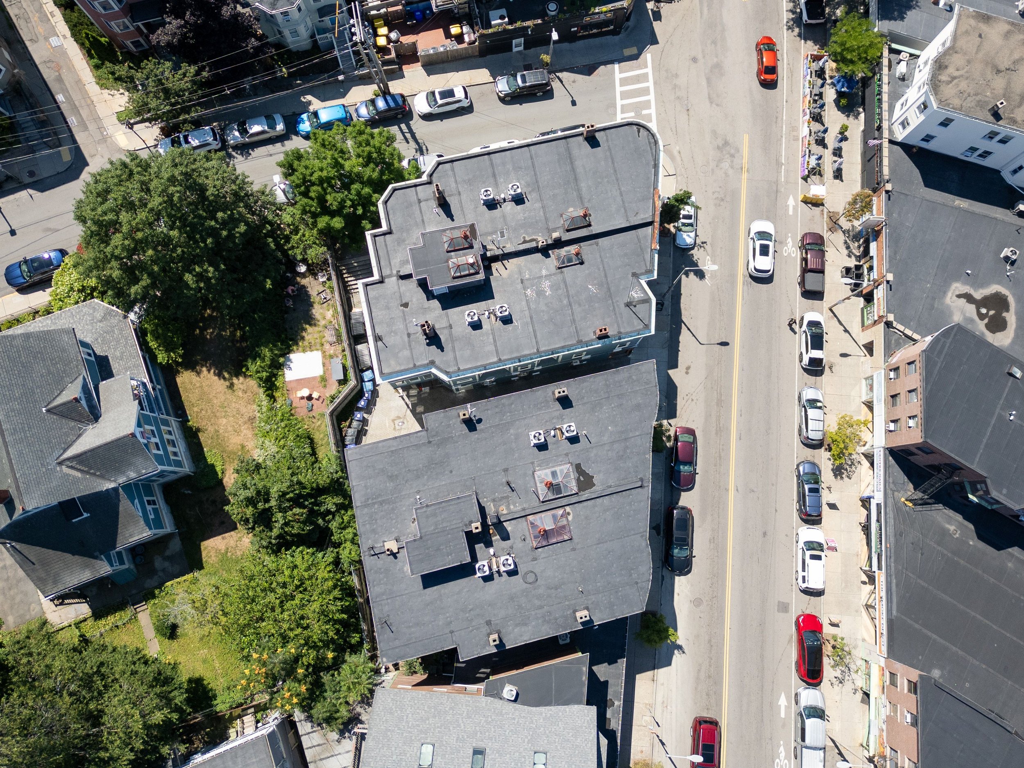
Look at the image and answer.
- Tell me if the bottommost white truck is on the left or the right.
right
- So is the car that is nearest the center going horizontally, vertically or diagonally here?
vertically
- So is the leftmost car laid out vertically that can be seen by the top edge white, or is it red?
red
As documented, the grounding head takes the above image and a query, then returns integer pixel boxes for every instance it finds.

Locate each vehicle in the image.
[675,195,699,249]
[534,122,585,138]
[797,526,827,592]
[158,128,221,159]
[800,232,828,293]
[748,220,776,278]
[225,117,287,150]
[666,505,695,573]
[796,613,826,684]
[671,427,699,489]
[296,106,352,136]
[414,88,470,118]
[798,387,827,444]
[801,0,825,25]
[800,312,828,368]
[693,716,720,768]
[795,686,828,768]
[402,146,445,174]
[495,69,551,99]
[796,461,825,519]
[354,93,410,124]
[3,249,69,286]
[755,36,779,85]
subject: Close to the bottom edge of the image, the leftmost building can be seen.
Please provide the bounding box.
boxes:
[174,713,300,768]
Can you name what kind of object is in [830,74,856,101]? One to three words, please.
umbrella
